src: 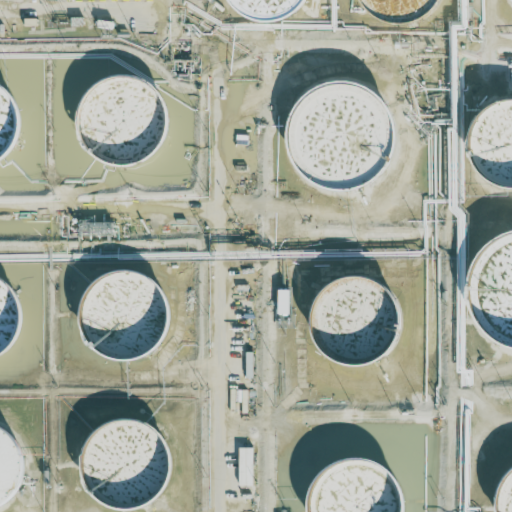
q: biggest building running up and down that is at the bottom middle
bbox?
[239,448,253,487]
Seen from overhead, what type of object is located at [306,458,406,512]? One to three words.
storage tank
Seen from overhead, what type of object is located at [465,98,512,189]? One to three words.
storage tank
